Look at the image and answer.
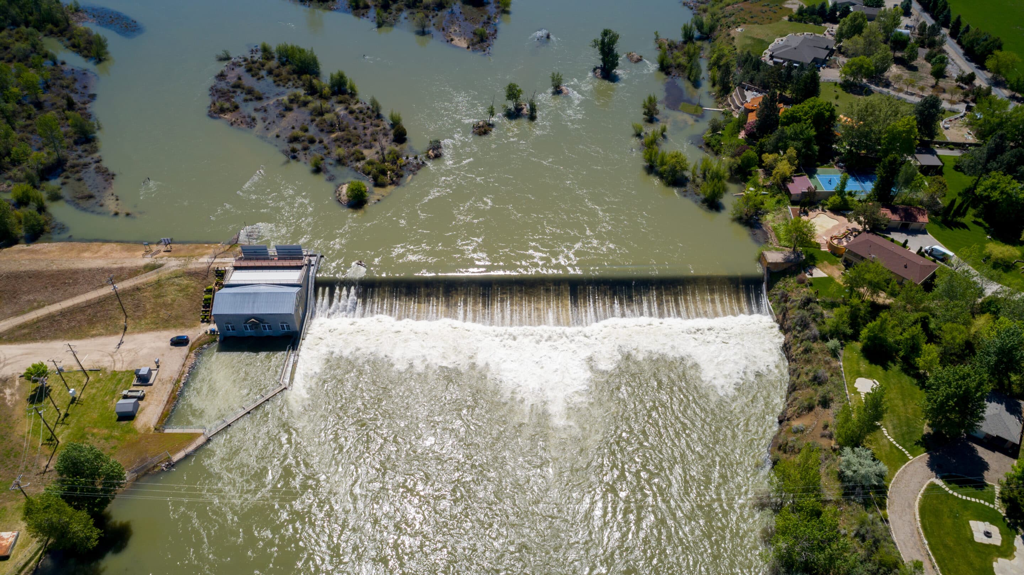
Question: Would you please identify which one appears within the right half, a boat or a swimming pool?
swimming pool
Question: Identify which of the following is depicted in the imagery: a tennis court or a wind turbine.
tennis court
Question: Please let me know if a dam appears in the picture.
Yes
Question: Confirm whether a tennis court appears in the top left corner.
No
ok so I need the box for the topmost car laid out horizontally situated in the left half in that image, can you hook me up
[166,335,191,347]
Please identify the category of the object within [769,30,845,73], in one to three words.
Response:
house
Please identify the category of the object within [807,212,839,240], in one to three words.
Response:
swimming pool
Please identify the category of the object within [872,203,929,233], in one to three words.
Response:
building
